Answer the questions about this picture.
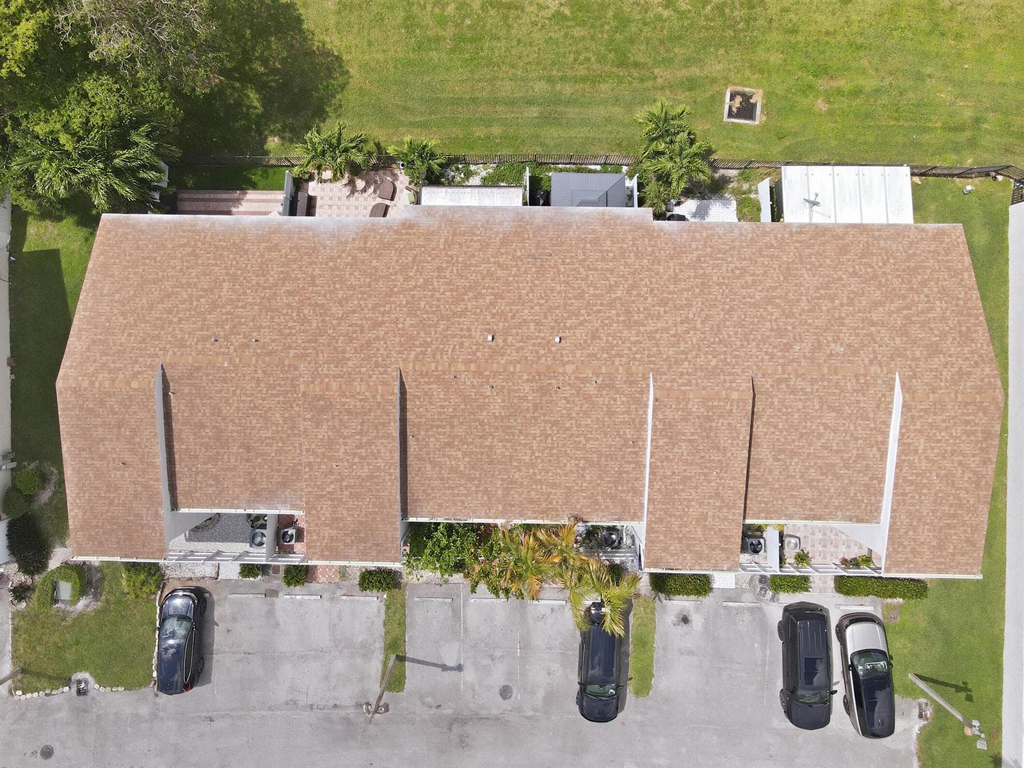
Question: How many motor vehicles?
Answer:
four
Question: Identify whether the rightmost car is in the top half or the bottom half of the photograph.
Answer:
bottom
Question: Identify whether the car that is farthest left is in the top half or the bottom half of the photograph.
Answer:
bottom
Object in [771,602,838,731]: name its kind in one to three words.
car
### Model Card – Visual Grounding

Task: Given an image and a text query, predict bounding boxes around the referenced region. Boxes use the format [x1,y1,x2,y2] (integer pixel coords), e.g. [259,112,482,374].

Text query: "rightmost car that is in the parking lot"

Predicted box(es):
[828,609,900,733]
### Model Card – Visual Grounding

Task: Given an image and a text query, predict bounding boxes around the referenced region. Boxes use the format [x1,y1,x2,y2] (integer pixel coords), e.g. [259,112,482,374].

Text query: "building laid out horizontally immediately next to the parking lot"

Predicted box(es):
[55,205,1005,582]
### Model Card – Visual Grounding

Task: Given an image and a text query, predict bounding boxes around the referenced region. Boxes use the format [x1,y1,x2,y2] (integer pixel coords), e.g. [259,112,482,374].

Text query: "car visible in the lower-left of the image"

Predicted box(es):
[150,584,209,693]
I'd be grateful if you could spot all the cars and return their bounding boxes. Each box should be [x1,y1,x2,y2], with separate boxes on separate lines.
[771,602,838,731]
[573,602,627,722]
[150,584,209,693]
[828,609,900,733]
